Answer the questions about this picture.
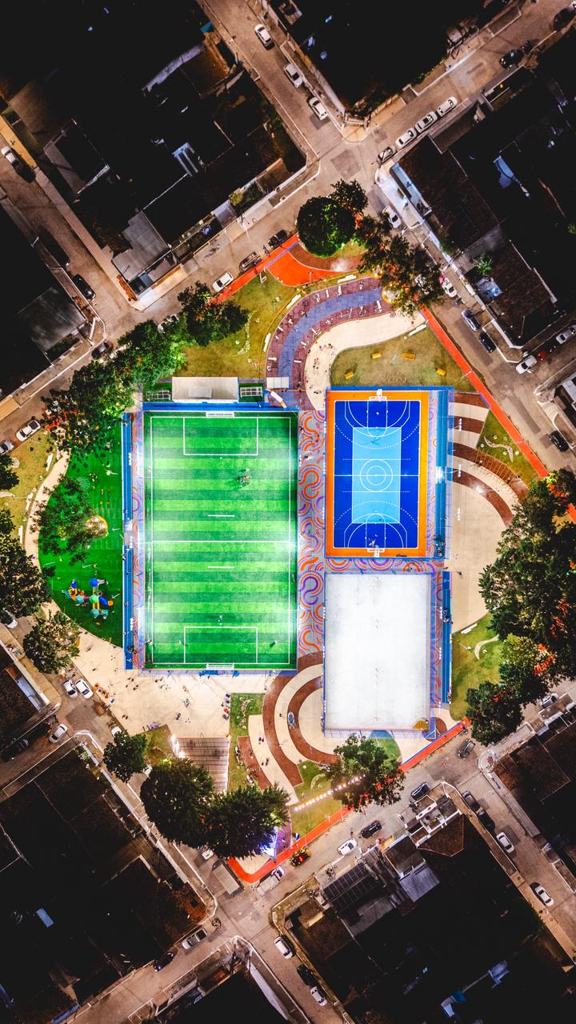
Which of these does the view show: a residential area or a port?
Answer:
residential area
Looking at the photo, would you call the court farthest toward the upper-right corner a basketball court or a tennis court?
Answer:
basketball court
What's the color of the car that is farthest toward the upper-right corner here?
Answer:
black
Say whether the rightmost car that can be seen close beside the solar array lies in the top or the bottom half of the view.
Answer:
bottom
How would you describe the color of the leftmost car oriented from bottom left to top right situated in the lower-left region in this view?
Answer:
black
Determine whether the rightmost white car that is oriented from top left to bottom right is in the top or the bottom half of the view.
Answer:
bottom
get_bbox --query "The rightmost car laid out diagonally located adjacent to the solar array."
[360,820,383,841]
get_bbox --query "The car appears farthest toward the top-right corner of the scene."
[552,8,576,30]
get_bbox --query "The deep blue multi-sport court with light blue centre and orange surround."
[326,390,429,557]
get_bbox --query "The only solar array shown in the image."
[326,852,388,909]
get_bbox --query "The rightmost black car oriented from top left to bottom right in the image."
[549,429,570,452]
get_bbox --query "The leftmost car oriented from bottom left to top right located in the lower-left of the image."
[2,740,27,760]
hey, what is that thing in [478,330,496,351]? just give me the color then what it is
black car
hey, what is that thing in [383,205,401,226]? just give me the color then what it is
white car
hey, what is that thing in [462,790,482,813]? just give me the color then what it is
gray car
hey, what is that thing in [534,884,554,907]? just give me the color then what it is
white car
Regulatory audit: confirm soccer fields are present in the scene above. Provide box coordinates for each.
[144,412,298,670]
